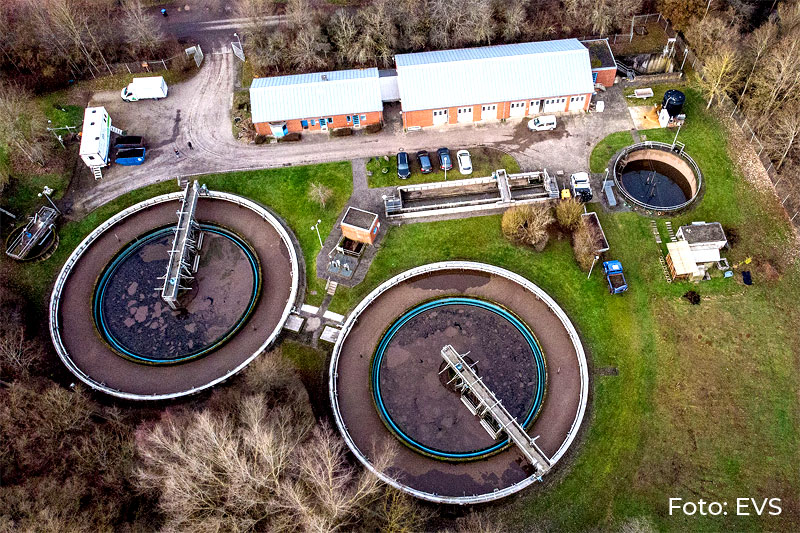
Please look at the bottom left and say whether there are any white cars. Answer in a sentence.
No, no white car can be made out at the bottom left.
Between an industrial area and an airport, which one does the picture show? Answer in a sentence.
The area seen from above is an industrial area.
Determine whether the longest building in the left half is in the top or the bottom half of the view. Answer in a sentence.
The top half of the photo is where the longest building in the left half is.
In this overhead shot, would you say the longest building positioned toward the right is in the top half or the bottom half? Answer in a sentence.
Seen from above, the longest building positioned toward the right lies in the top half of the view.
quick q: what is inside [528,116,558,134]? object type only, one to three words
vehicle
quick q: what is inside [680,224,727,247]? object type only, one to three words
shed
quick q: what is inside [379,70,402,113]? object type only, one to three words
building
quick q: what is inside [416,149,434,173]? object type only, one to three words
car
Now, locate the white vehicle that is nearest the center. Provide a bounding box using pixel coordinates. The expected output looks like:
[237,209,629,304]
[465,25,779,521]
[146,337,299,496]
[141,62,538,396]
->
[457,150,473,174]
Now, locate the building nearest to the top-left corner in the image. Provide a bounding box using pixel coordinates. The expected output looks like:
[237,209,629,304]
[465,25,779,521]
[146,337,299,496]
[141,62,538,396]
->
[249,68,383,141]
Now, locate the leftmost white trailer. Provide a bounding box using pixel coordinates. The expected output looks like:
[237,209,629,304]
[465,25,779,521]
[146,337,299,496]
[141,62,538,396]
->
[80,106,125,182]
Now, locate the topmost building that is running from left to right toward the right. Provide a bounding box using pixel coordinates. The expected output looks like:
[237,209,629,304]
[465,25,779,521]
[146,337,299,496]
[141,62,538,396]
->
[396,38,595,129]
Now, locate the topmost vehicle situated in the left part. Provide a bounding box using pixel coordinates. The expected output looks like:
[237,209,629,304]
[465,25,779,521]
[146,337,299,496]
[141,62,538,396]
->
[121,77,168,103]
